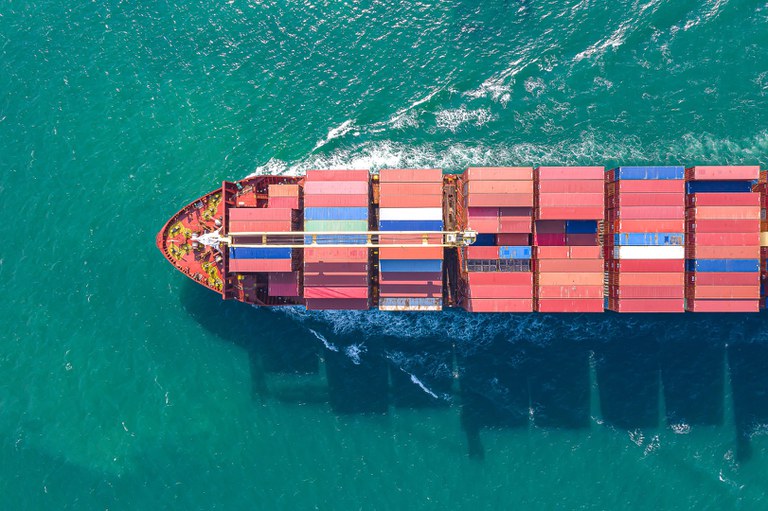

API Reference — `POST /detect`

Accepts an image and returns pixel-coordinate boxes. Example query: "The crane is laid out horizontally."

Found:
[226,224,480,249]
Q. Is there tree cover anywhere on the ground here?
No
